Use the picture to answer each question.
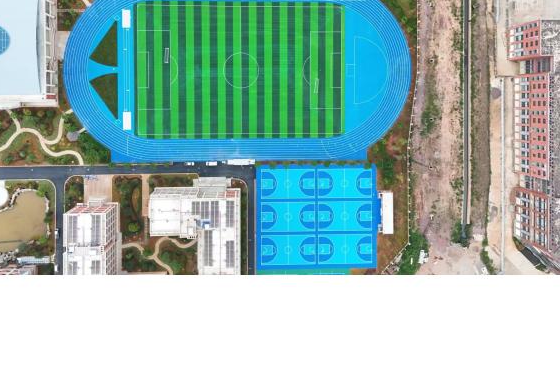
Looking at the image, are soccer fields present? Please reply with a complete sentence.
Yes, a soccer field can be made out from above.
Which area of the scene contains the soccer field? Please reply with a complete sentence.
The soccer field is located in the top region of the scene.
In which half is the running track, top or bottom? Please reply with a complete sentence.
Seen from above, the running track lies in the top half of the view.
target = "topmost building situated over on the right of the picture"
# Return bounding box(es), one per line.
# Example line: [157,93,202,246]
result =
[509,20,560,64]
